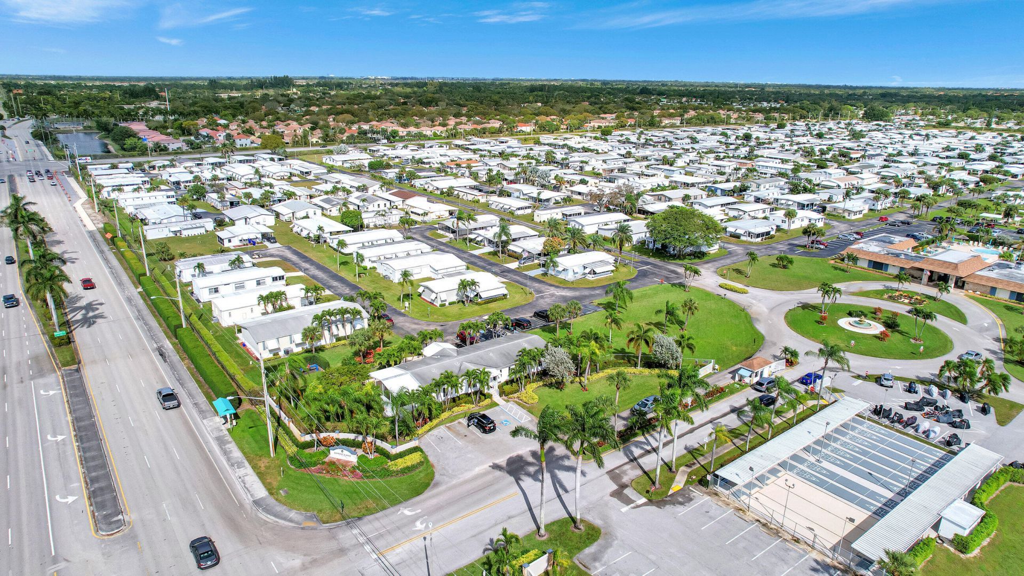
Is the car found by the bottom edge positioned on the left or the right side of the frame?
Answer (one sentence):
The car found by the bottom edge sits on the left side.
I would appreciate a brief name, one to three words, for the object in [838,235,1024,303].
building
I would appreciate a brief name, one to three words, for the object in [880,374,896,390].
car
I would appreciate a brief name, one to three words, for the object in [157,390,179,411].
truck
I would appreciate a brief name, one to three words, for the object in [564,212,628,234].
house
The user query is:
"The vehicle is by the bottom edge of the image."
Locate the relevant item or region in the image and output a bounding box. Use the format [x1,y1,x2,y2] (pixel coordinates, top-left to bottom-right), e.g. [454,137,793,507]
[190,535,218,571]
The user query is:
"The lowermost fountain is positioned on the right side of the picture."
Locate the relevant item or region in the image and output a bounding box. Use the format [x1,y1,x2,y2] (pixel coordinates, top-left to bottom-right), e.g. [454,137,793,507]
[835,316,886,334]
